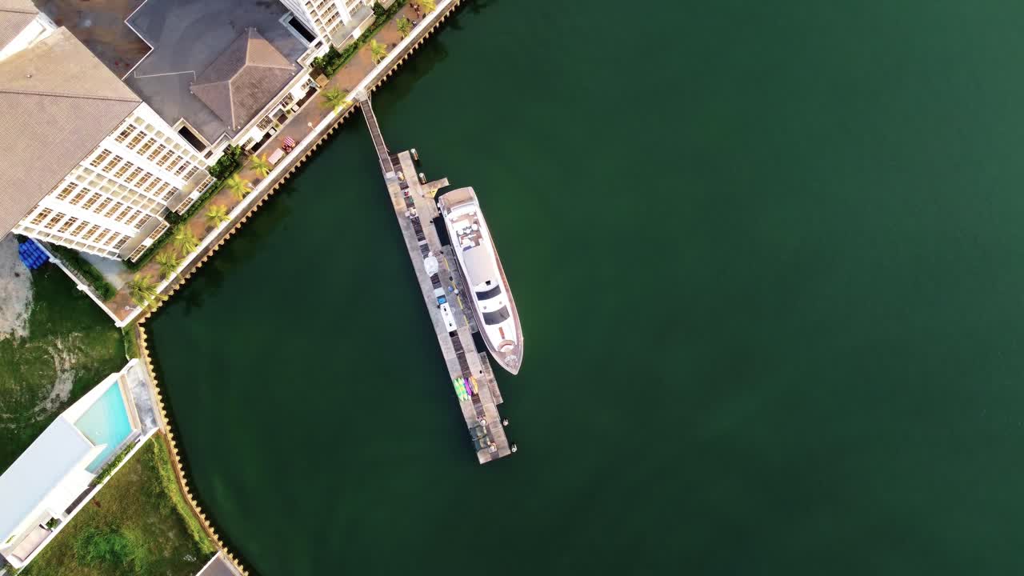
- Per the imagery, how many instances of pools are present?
1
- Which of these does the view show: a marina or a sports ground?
marina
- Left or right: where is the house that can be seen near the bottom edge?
left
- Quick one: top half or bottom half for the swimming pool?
bottom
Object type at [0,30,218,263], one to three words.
building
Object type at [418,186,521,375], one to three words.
boat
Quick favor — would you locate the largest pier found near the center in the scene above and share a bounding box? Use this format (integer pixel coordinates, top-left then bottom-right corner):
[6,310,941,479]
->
[381,150,512,464]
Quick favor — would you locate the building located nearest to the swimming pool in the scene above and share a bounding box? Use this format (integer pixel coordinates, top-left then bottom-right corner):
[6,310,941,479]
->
[0,413,109,570]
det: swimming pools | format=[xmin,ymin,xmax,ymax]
[82,375,145,477]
